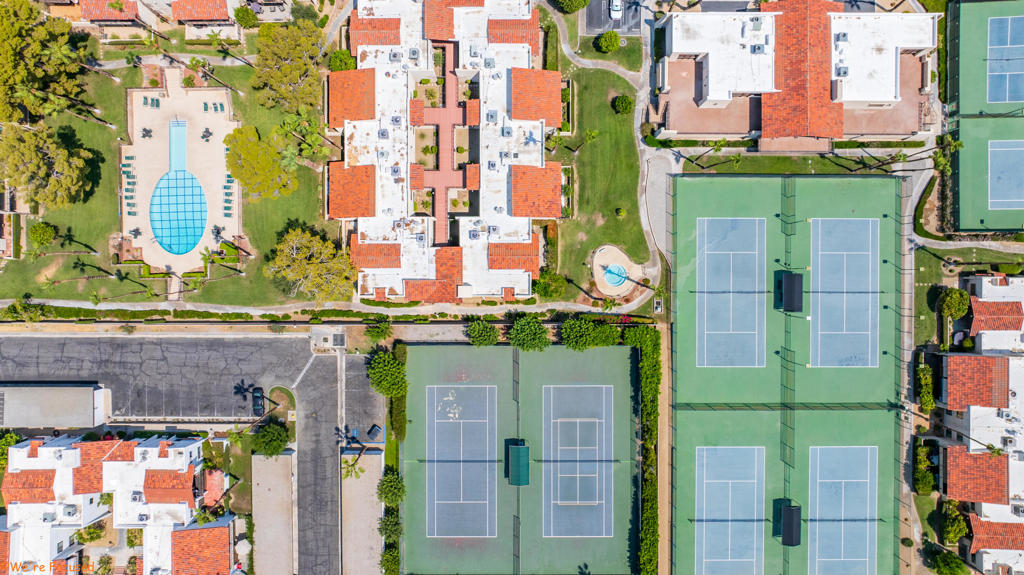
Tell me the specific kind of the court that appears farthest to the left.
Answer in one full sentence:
From above, the court that appears farthest to the left can be identified as a tennis court.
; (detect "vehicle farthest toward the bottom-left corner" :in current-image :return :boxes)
[250,387,265,417]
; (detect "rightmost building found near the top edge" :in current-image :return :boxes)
[648,0,942,153]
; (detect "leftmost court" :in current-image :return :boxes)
[402,346,516,574]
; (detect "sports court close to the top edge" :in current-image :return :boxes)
[961,3,1024,118]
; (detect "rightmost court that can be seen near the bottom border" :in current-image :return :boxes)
[788,407,901,575]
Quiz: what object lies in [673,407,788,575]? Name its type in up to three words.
tennis court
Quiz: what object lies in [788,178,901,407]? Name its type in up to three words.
tennis court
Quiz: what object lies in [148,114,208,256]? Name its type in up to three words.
swimming pool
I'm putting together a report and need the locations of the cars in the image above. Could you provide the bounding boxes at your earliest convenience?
[250,387,265,417]
[610,0,625,19]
